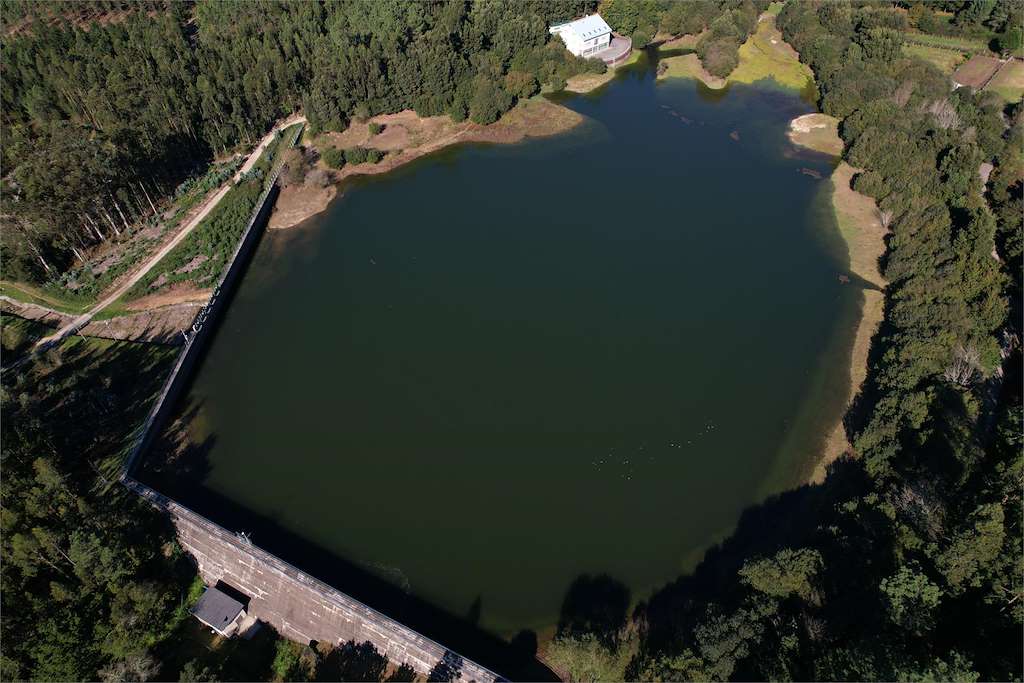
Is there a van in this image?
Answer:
No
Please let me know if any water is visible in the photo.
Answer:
Yes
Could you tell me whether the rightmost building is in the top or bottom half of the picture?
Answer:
top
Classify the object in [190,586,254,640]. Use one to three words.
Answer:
building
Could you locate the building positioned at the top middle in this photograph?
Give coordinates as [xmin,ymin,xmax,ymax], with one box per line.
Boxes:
[549,12,612,57]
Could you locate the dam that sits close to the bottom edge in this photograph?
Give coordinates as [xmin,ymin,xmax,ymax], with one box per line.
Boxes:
[114,473,514,683]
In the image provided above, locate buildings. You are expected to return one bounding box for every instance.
[190,586,254,640]
[549,12,612,57]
